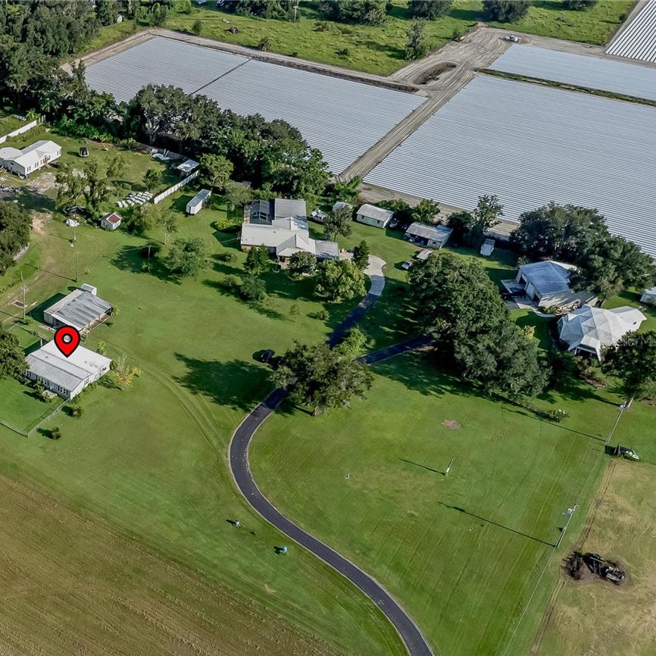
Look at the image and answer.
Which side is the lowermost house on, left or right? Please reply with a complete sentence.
The lowermost house sits on the left side.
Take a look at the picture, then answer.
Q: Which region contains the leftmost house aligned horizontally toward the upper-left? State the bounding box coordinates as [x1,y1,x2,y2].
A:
[0,137,70,178]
